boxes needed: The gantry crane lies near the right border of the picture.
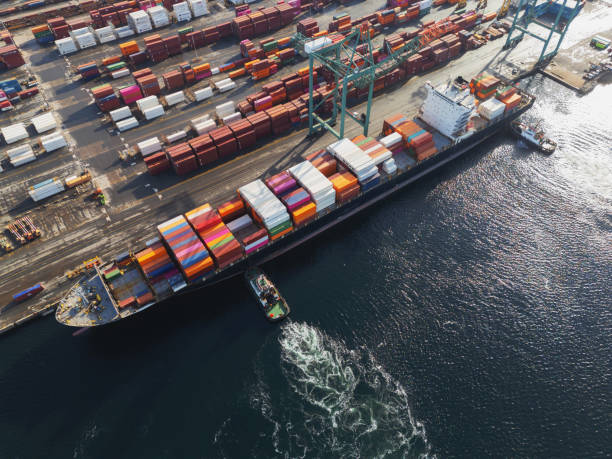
[503,0,583,66]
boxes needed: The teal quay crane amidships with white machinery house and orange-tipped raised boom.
[301,13,472,142]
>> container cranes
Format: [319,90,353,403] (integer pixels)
[301,13,472,142]
[503,0,583,66]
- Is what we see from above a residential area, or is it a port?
port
